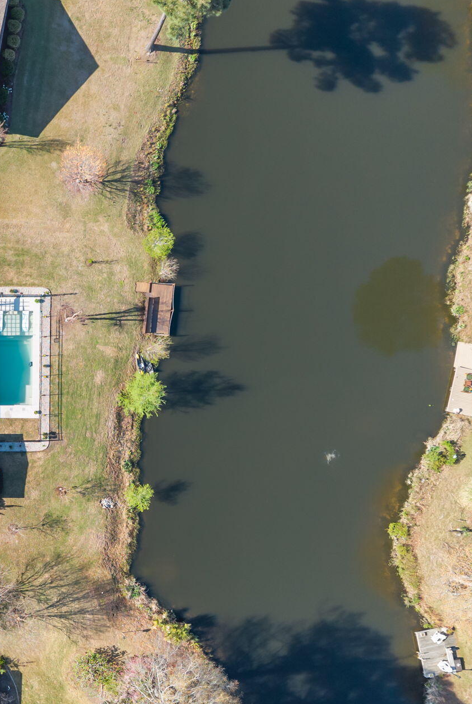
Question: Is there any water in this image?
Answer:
Yes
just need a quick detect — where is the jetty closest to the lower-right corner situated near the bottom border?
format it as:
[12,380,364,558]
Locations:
[410,626,457,678]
